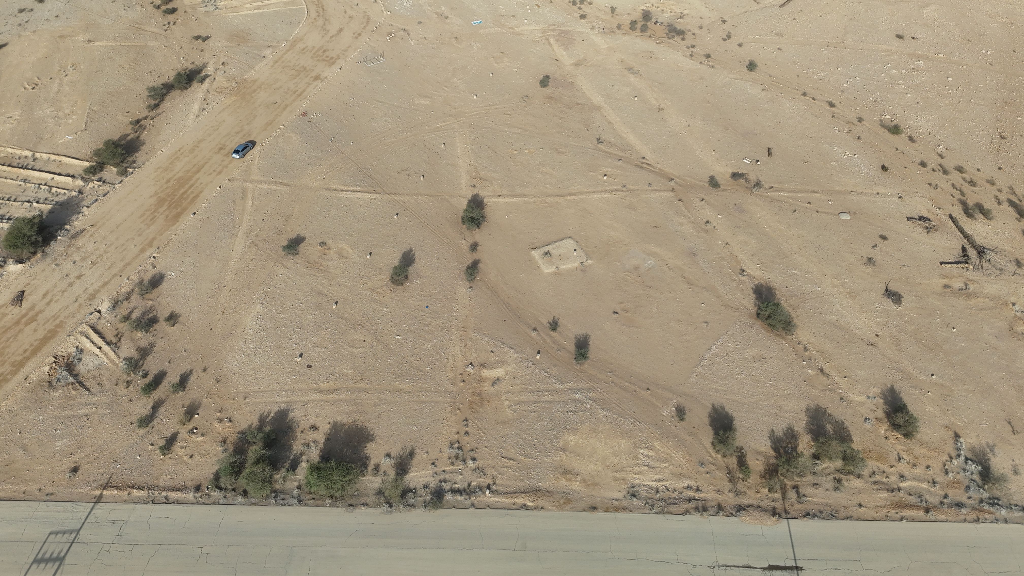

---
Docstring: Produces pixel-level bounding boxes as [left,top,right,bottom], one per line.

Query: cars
[231,143,253,159]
